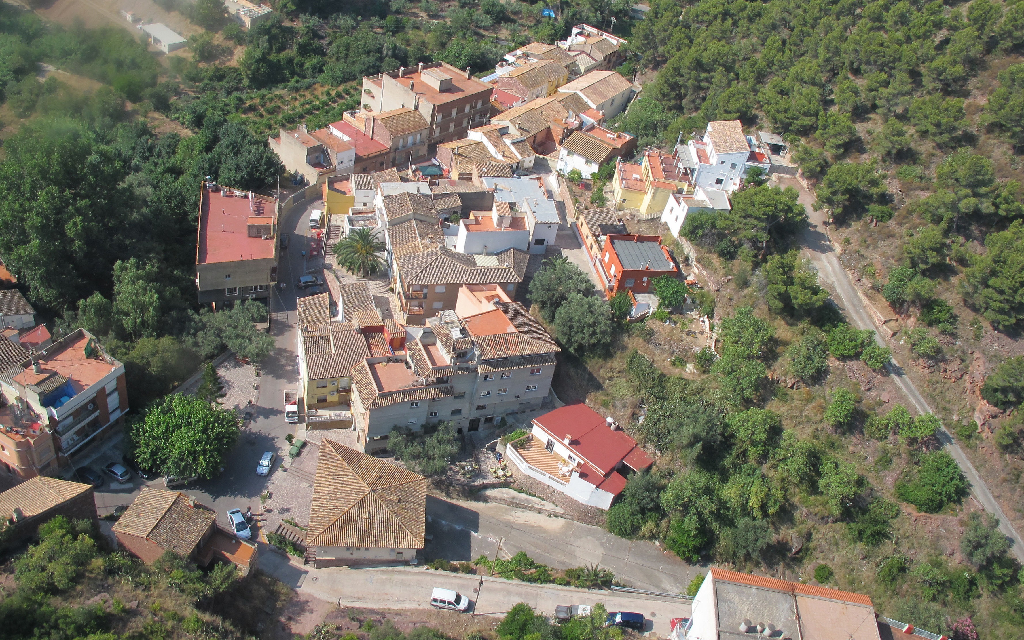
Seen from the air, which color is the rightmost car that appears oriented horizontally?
blue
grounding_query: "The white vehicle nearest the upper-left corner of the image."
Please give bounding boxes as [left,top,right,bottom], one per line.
[309,205,325,226]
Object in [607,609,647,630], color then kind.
blue car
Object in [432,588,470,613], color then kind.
white vehicle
